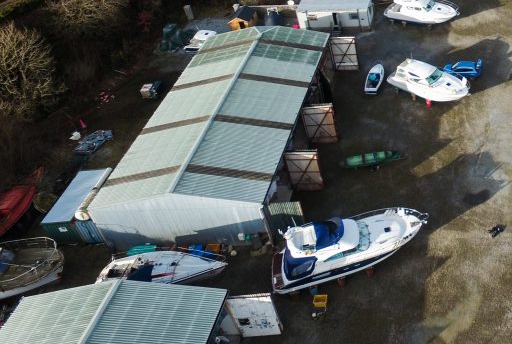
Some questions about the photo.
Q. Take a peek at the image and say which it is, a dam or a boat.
boat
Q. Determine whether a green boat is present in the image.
Yes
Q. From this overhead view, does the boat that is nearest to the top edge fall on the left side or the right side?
right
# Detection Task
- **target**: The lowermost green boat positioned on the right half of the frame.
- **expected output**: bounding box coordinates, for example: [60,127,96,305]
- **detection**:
[344,153,399,169]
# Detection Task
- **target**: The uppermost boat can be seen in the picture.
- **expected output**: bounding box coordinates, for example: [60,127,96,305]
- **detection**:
[383,0,459,27]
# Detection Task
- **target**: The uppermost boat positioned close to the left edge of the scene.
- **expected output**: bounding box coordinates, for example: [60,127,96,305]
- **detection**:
[0,169,42,236]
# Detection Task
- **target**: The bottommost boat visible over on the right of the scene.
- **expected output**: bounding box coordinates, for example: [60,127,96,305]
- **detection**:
[268,212,428,307]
